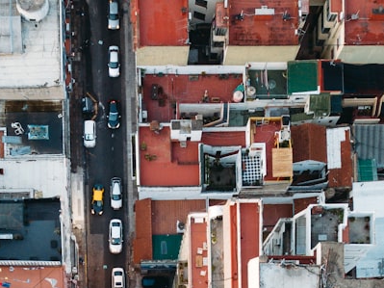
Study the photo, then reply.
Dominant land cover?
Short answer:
buildings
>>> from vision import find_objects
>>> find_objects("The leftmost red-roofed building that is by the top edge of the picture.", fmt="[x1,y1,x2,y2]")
[130,0,227,80]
